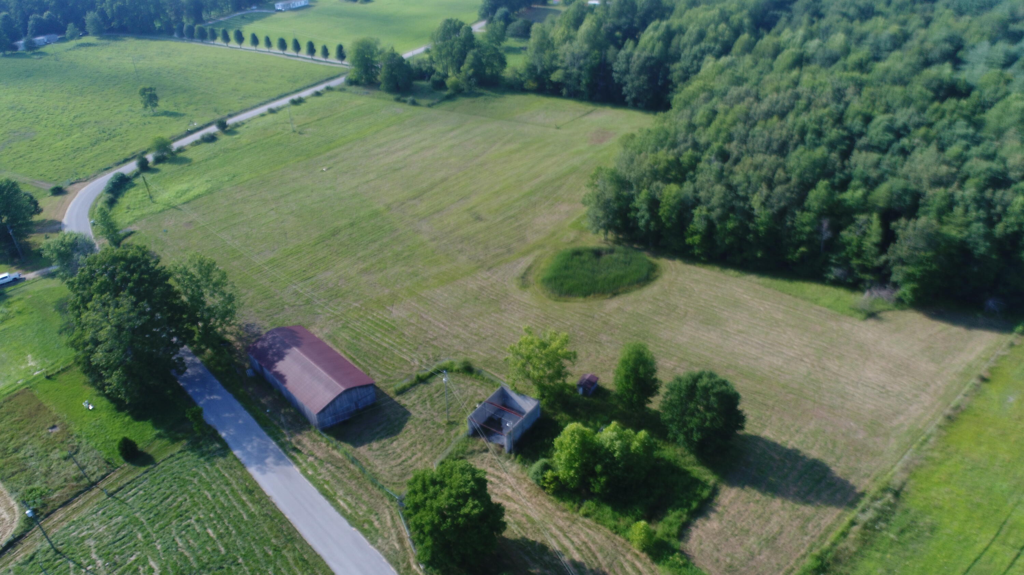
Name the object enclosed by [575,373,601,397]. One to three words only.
shed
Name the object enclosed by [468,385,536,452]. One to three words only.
building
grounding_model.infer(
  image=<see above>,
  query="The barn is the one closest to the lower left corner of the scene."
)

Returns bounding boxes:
[248,324,376,430]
